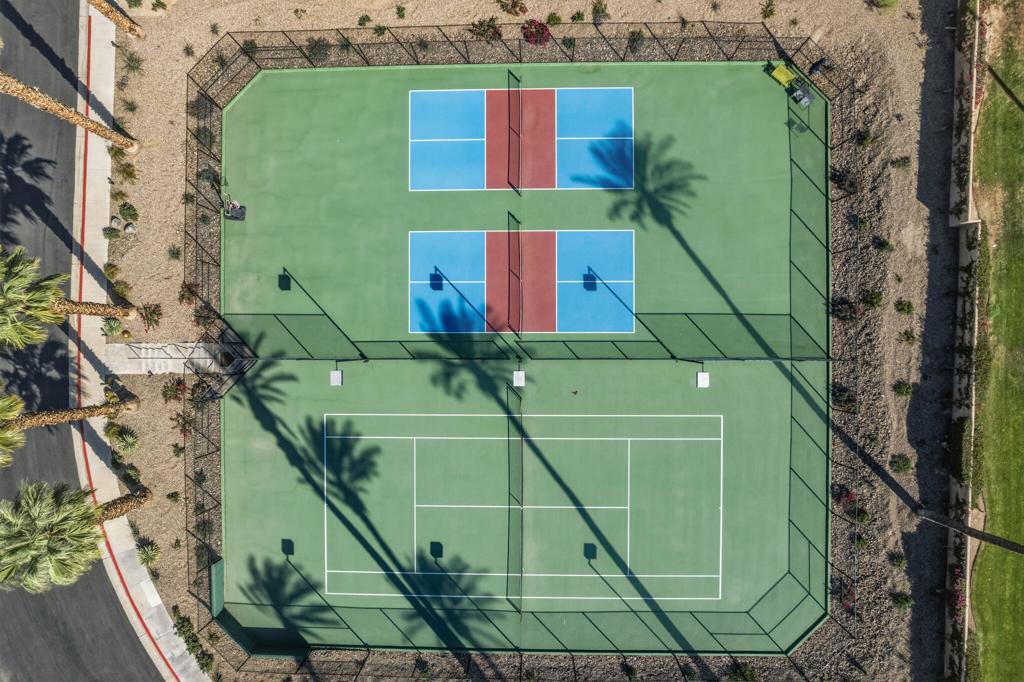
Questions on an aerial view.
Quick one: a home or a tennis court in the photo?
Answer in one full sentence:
This aerial view contains a tennis court.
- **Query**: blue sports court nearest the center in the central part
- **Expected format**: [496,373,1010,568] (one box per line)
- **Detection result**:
[408,230,635,333]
